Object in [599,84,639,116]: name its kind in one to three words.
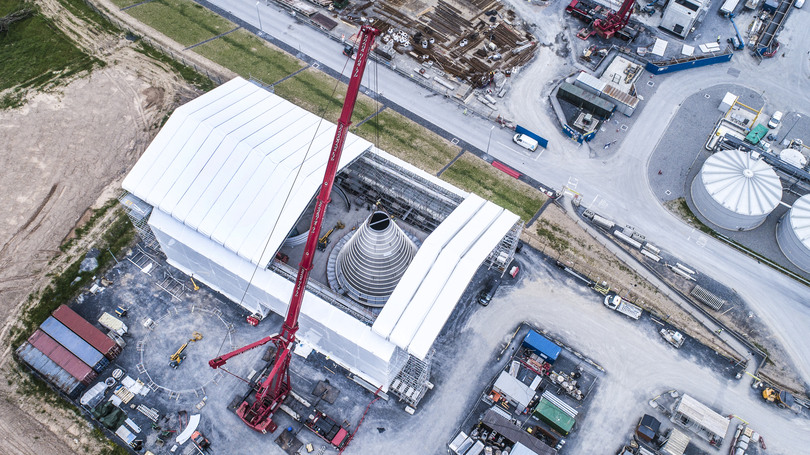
building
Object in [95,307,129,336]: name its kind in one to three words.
truck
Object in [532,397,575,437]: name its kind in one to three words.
shipping container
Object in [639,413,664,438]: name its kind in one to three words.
shed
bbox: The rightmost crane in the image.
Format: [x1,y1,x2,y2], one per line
[551,0,640,53]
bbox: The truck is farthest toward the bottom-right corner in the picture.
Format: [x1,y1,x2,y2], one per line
[763,387,795,408]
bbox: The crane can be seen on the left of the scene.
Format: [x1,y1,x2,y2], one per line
[202,17,389,449]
